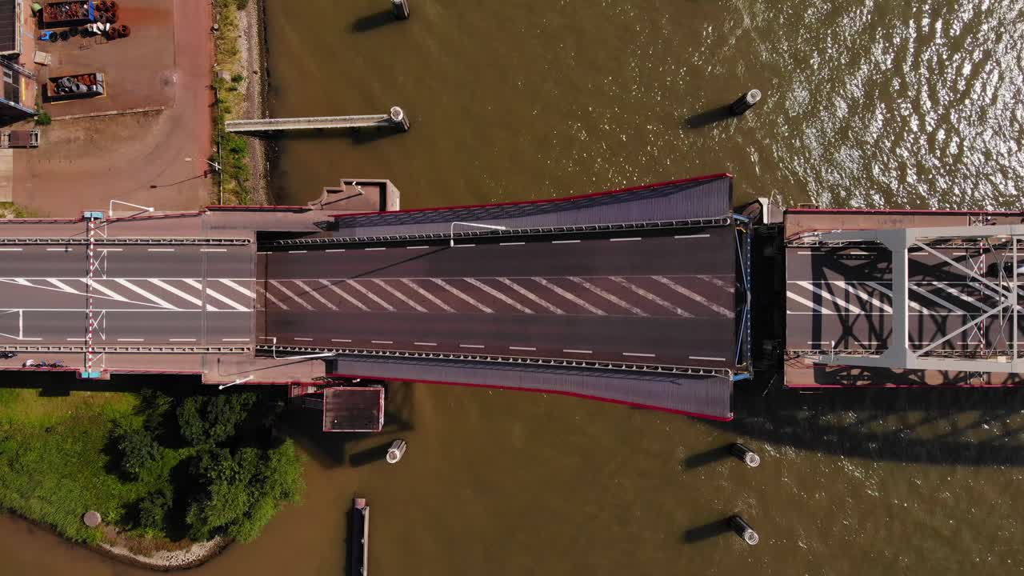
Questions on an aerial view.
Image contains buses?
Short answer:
No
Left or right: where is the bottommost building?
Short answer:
left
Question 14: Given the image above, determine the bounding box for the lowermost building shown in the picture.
[293,379,395,431]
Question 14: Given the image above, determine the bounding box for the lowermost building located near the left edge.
[0,61,38,121]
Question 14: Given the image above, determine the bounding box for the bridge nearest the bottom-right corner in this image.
[780,200,1024,392]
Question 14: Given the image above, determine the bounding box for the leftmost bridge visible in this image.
[0,206,333,385]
